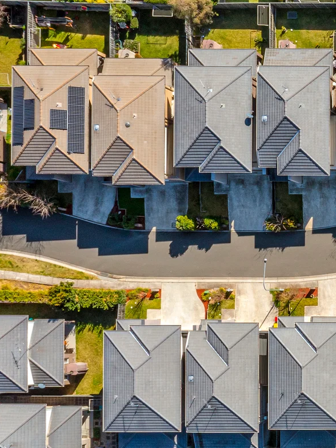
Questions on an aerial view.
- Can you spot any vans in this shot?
No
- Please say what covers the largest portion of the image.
buildings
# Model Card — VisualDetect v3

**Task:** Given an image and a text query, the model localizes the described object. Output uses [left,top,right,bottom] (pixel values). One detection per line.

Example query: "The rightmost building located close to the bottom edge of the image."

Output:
[267,312,336,448]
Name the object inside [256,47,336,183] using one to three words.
house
